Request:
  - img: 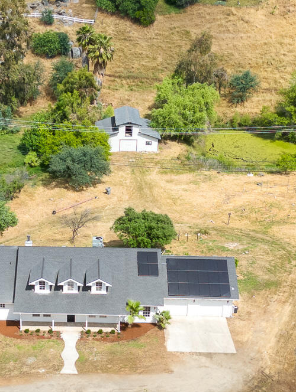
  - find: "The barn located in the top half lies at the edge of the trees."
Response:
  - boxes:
[97,100,160,152]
